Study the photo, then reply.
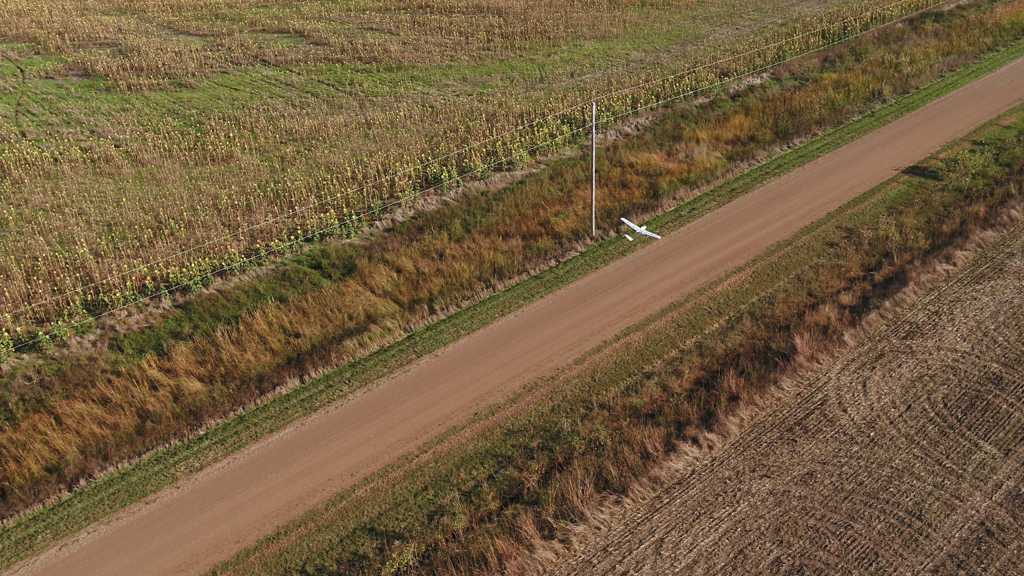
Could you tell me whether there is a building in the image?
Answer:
No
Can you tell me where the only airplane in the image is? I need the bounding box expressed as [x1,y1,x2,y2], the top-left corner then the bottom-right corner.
[620,217,661,238]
